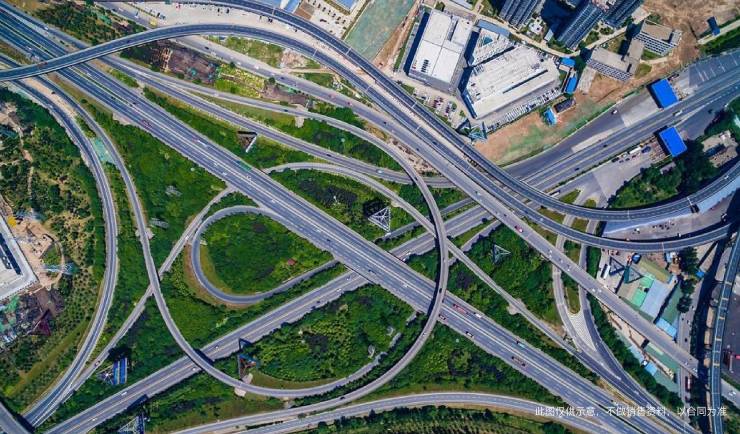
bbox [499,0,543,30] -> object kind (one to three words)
building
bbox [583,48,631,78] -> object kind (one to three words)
building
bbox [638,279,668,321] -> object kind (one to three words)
shed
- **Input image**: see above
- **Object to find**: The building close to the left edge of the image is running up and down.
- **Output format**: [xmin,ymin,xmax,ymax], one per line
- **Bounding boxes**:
[0,200,47,303]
